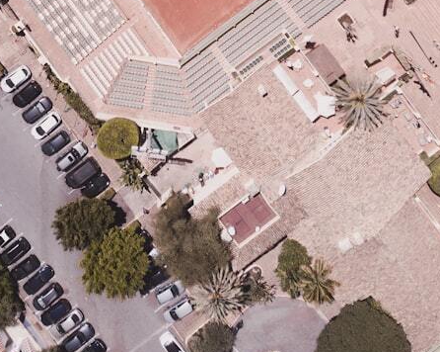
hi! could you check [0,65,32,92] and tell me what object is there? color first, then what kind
white car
